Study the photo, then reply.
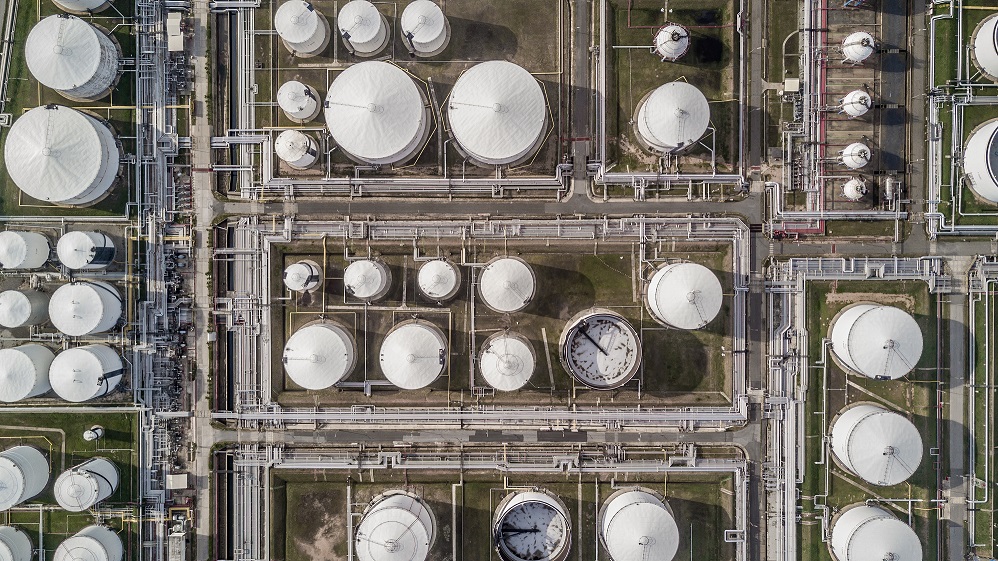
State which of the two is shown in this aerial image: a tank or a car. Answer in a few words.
tank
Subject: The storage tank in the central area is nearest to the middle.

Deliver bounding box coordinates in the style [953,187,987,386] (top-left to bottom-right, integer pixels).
[462,246,537,315]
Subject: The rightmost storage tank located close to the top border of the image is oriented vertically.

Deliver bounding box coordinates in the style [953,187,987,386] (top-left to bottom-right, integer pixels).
[967,12,998,85]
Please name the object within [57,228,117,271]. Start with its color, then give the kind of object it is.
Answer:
white storage tank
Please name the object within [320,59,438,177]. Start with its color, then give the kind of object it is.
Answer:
white storage tank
